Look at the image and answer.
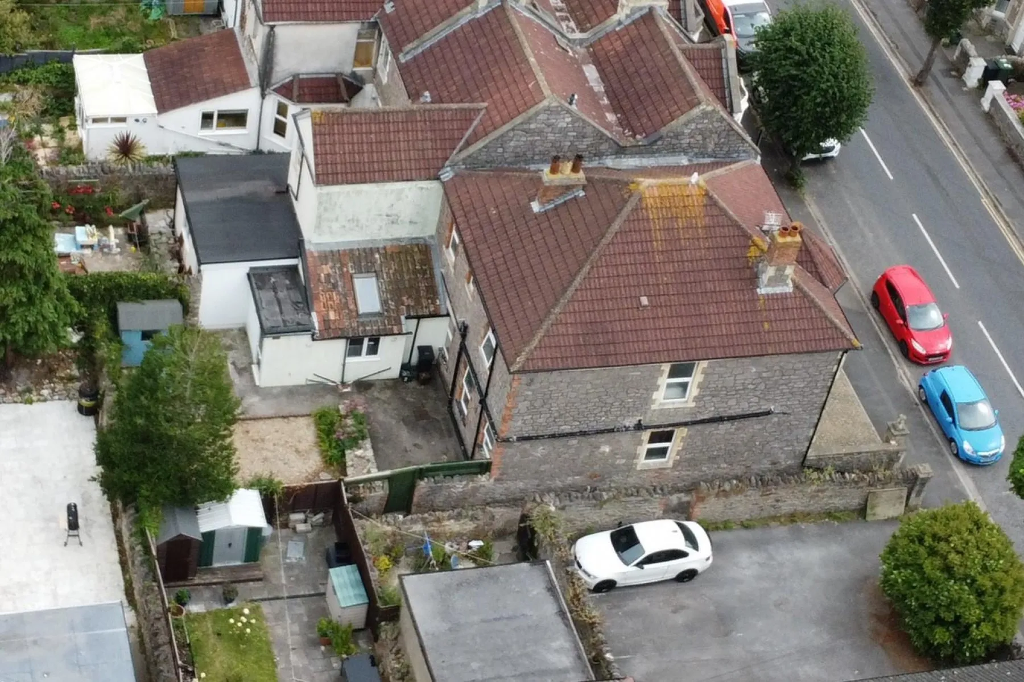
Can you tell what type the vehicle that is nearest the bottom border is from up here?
car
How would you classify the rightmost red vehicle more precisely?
automobile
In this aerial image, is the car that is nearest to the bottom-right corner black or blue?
blue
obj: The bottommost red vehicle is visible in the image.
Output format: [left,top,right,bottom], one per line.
[874,273,958,365]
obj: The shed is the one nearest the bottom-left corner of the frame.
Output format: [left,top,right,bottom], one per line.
[0,598,139,682]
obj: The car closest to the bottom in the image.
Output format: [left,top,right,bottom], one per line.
[571,517,715,590]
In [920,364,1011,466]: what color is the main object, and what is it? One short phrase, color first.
blue car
